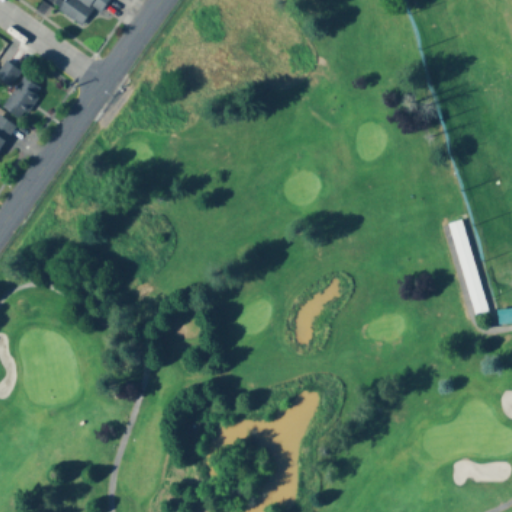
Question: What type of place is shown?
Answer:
golf course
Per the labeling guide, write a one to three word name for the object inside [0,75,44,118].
house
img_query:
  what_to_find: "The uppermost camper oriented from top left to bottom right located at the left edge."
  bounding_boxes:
[6,26,28,44]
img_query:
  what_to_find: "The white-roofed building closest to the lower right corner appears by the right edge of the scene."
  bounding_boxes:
[449,219,490,314]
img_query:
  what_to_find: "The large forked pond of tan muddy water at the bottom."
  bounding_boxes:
[220,390,320,512]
